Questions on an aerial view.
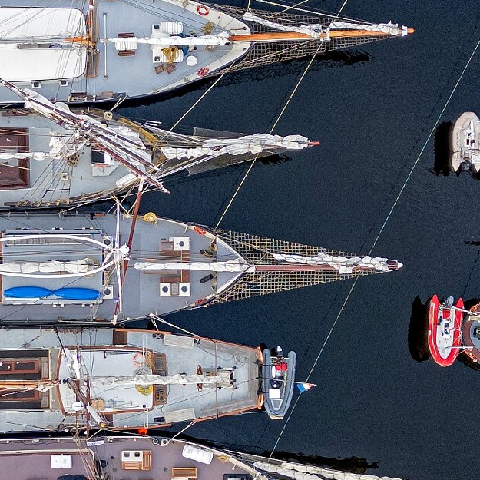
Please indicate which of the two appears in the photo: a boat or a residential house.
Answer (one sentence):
Of the two, only a boat appears.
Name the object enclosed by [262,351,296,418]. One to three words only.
boat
